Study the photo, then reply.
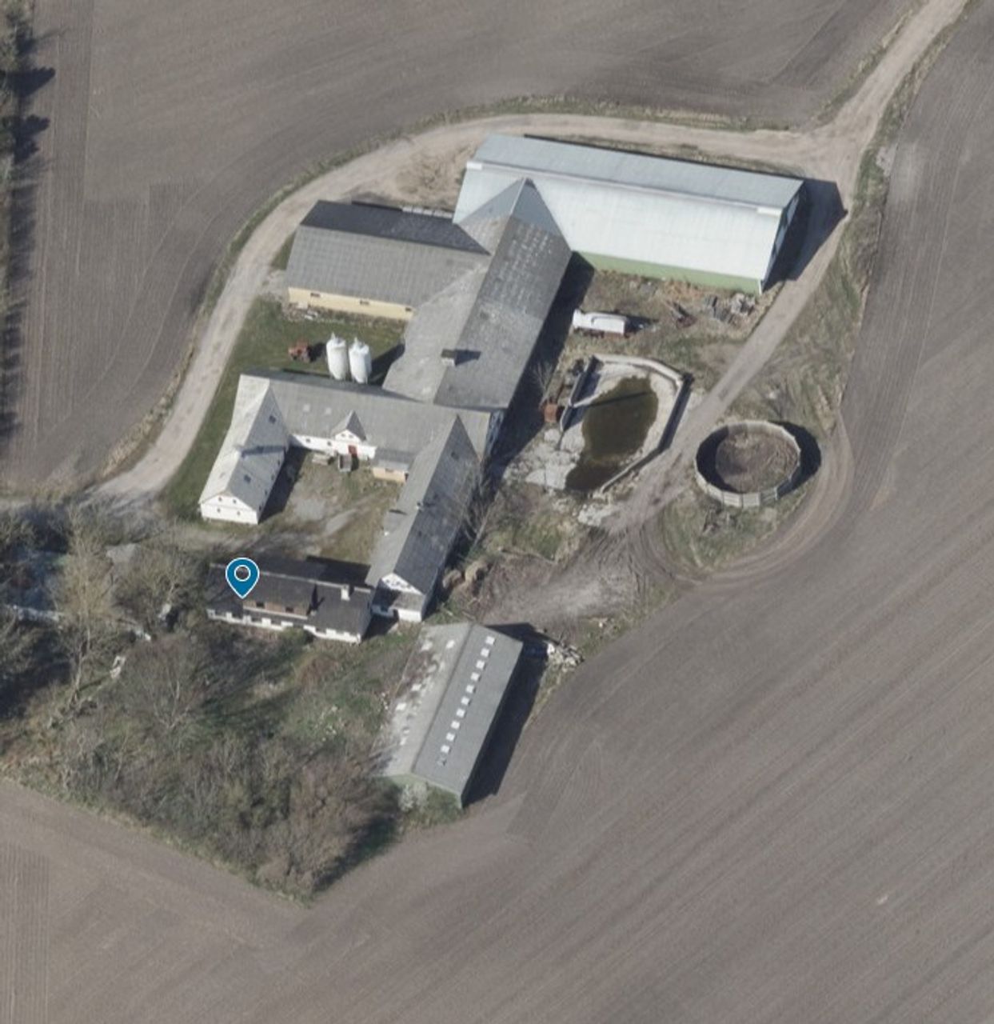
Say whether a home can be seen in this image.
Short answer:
Yes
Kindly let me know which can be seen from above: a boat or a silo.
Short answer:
silo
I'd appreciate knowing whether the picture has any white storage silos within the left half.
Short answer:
Yes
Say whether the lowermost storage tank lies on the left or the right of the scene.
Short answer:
right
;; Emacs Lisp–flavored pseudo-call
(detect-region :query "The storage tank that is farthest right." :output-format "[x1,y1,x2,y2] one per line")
[696,420,801,506]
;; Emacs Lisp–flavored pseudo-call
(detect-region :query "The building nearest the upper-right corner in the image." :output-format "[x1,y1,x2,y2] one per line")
[455,136,801,293]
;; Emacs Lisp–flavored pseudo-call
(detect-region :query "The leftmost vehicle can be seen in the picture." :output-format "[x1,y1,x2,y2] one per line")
[286,343,311,362]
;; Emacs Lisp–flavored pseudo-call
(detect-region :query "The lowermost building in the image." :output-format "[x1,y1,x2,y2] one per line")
[364,624,525,806]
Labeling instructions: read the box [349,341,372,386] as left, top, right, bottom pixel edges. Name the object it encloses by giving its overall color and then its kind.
white silo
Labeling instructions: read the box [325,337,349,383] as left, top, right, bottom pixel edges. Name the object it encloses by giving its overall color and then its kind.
white silo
